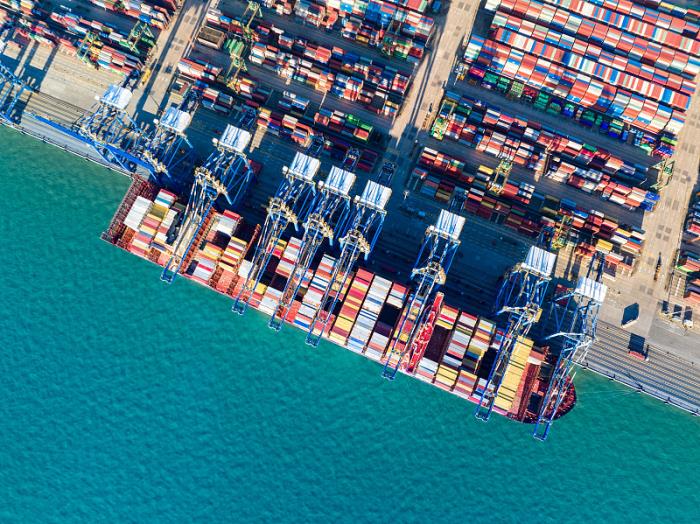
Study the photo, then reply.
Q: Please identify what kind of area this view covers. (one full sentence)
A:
It's a port.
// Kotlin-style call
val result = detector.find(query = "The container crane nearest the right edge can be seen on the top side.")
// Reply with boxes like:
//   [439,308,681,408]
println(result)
[649,154,686,196]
